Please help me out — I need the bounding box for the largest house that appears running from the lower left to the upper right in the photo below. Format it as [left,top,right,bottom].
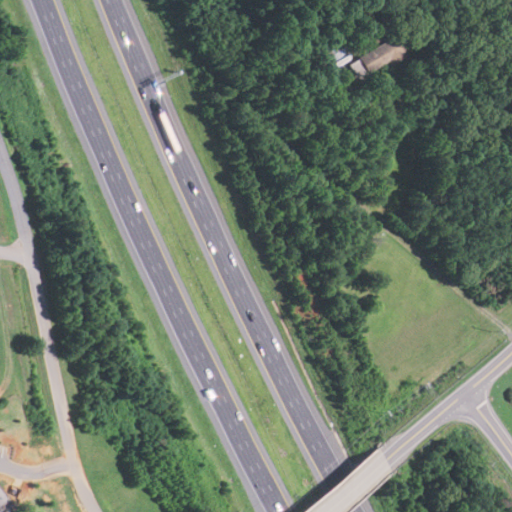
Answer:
[360,41,404,73]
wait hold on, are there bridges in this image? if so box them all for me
[306,444,402,512]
